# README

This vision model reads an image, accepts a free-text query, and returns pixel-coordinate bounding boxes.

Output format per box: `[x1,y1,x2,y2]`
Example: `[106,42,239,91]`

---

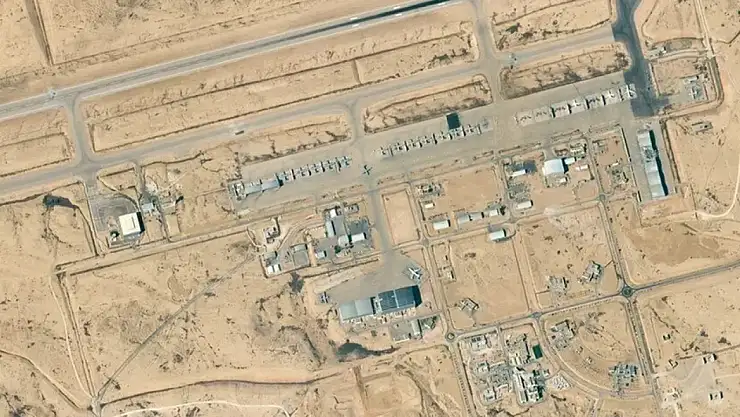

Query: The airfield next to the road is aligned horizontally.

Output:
[0,0,708,309]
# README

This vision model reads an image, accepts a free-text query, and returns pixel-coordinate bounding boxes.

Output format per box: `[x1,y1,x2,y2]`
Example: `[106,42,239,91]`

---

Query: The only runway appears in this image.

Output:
[0,0,472,119]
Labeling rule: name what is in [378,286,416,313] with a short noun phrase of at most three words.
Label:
hangar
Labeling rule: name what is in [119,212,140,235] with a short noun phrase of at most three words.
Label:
building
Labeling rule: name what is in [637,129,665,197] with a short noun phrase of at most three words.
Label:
hangar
